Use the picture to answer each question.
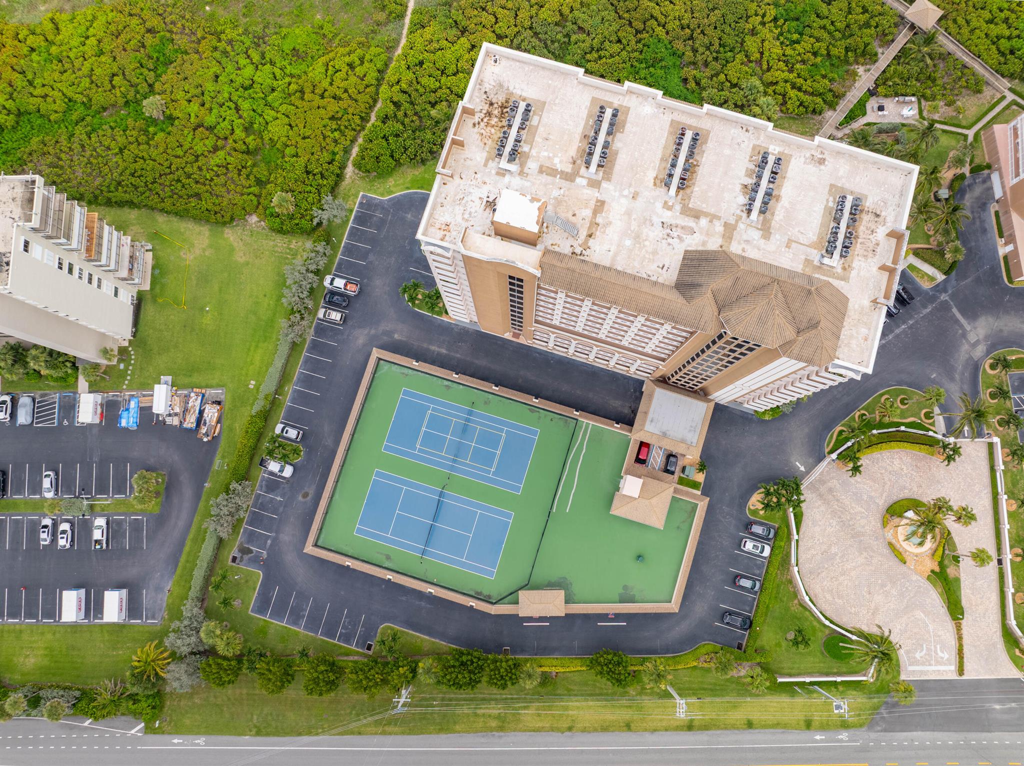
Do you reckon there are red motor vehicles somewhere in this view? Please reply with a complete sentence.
Yes, the picture does show a red motor vehicle.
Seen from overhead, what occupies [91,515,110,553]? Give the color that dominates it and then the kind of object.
white vehicle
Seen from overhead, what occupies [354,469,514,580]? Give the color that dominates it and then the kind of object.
blue tennis court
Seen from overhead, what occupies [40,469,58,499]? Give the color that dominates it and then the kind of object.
white car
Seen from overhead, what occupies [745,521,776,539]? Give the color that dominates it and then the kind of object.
gray car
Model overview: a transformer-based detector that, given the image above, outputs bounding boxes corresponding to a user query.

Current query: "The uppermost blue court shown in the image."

[382,388,540,495]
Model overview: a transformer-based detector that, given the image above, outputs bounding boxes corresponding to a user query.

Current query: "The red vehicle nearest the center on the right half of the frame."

[634,440,652,467]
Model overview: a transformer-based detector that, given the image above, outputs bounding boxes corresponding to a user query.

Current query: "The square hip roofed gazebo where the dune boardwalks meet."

[904,0,950,30]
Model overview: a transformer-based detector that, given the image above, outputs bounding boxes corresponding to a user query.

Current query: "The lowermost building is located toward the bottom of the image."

[519,590,565,617]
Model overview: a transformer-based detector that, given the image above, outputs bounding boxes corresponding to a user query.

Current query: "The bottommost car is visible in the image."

[720,611,752,630]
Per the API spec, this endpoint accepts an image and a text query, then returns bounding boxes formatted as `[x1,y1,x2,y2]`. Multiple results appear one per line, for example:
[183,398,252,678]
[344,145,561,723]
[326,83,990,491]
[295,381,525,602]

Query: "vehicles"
[745,521,776,539]
[897,283,924,312]
[739,538,771,557]
[324,276,360,295]
[889,303,908,322]
[661,449,679,476]
[257,456,295,477]
[40,469,58,499]
[634,440,652,467]
[57,521,74,551]
[317,308,346,325]
[39,516,56,546]
[275,424,304,441]
[720,611,752,630]
[322,291,352,308]
[732,574,762,592]
[91,515,110,553]
[0,393,15,423]
[884,319,897,336]
[0,469,9,499]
